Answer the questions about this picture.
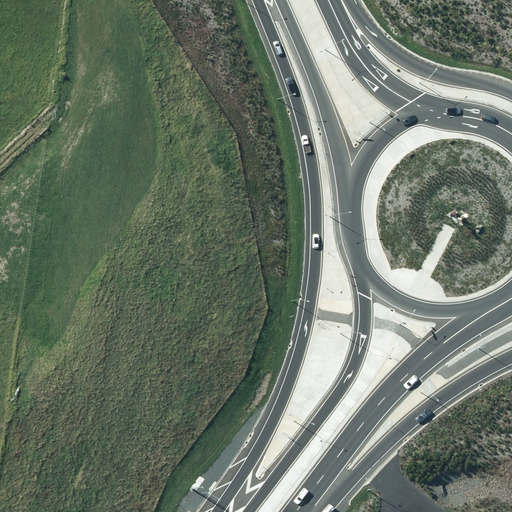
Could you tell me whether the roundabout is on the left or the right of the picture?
right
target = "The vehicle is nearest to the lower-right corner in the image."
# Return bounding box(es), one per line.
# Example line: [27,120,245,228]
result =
[417,410,434,424]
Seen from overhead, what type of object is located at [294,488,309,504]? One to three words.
vehicle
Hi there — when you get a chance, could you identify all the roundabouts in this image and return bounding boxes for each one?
[334,93,512,322]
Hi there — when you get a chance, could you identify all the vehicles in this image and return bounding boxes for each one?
[288,78,298,94]
[404,115,420,126]
[417,410,434,424]
[274,41,284,56]
[404,376,419,388]
[447,108,462,115]
[313,234,320,249]
[321,504,332,512]
[294,488,309,504]
[302,135,312,154]
[482,114,498,124]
